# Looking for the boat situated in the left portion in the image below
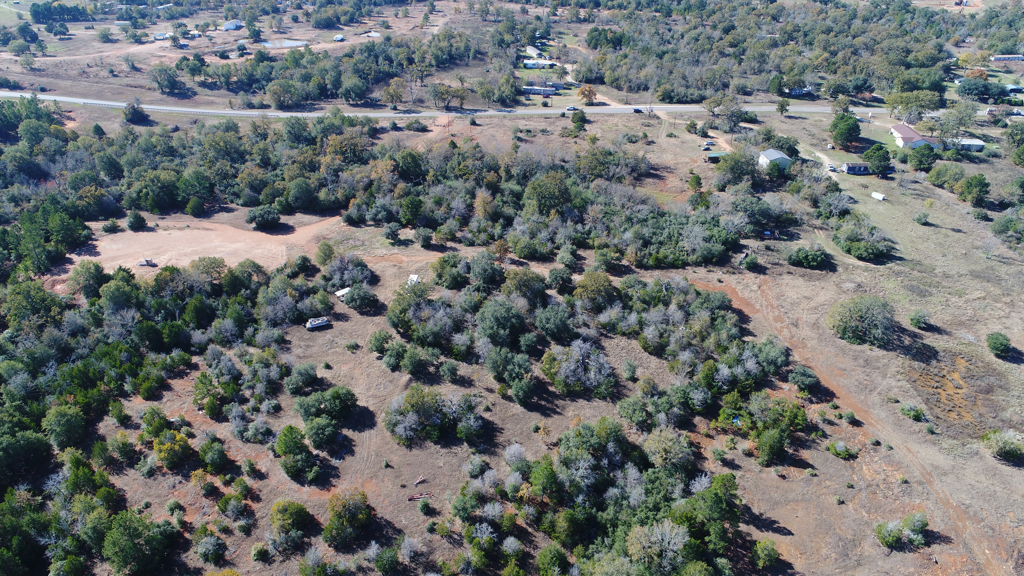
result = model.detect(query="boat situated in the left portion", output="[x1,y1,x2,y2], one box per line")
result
[301,313,335,326]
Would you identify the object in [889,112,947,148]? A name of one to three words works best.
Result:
building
